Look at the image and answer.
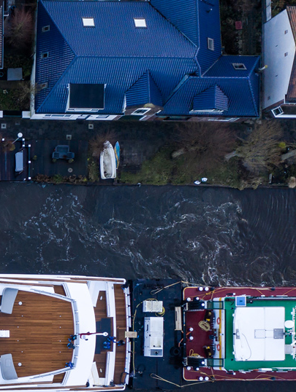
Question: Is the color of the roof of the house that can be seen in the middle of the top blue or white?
blue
